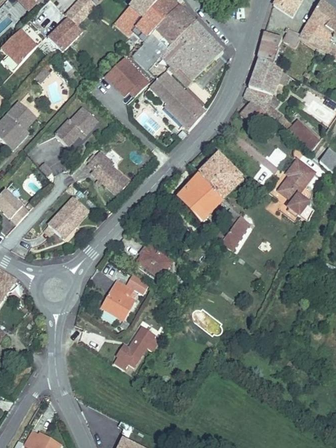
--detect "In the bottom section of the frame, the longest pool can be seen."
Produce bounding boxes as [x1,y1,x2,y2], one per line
[192,308,224,338]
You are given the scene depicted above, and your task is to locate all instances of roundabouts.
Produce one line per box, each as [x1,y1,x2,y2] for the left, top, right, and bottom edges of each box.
[20,258,86,345]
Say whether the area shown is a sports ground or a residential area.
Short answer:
residential area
